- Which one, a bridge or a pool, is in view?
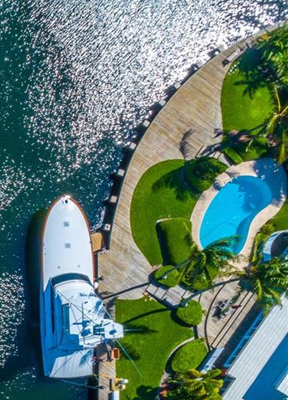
pool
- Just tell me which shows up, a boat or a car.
boat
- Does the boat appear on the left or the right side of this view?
left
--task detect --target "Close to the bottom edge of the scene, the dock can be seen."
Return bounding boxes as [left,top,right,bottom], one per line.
[95,299,114,400]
